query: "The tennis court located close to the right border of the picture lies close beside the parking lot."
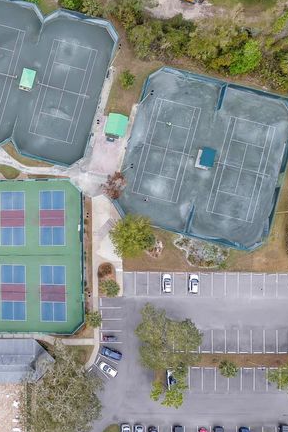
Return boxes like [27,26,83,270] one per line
[180,88,288,249]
